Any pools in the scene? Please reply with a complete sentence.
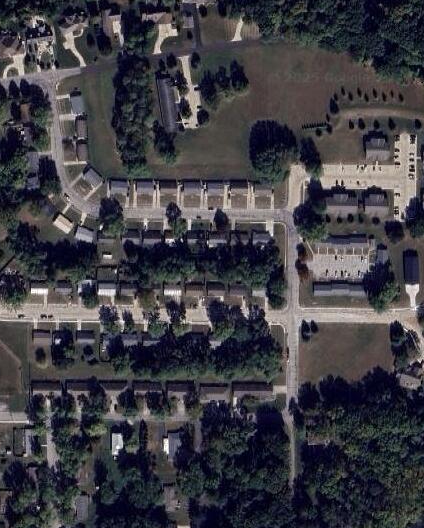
No, I can't see a single pool in this photo.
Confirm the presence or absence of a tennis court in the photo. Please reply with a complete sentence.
No, there is no tennis court in the image.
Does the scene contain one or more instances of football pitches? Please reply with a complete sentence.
No, no football pitch can be seen from above.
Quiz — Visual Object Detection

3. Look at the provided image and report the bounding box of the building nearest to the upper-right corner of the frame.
[366,139,391,159]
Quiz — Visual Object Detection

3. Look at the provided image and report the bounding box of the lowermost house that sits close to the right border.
[399,367,424,389]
